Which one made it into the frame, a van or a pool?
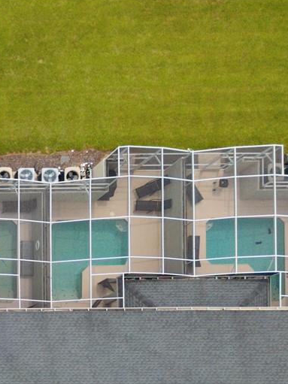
pool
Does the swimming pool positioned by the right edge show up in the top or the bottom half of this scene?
bottom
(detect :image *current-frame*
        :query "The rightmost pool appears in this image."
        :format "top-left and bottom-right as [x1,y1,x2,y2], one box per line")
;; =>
[207,220,282,303]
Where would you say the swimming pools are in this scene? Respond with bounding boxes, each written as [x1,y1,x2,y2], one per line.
[0,221,15,302]
[52,211,127,299]
[207,220,282,303]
